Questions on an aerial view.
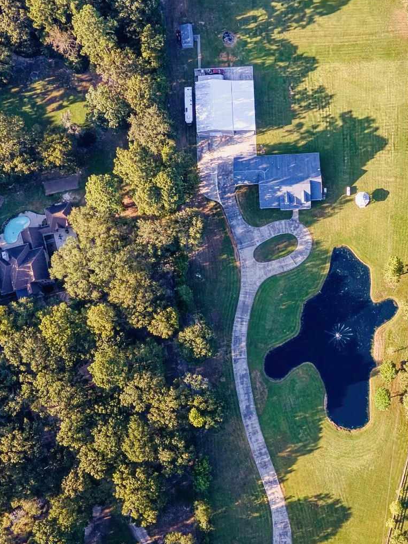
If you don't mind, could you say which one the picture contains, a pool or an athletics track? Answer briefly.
pool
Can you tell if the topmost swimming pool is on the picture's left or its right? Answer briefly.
left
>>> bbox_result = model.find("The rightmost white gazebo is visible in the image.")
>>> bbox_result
[354,192,370,208]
